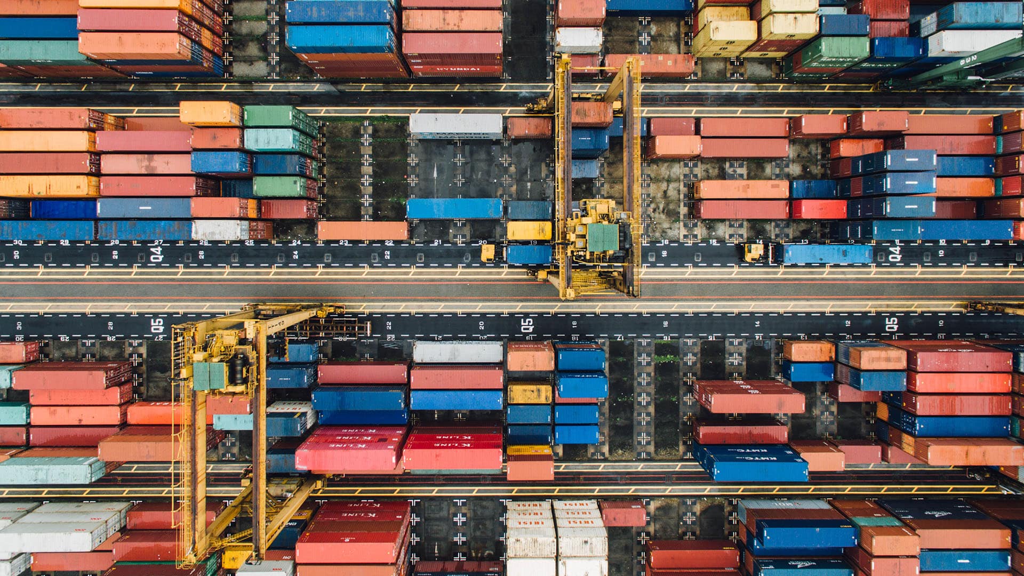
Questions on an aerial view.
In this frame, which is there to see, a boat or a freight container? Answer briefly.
freight container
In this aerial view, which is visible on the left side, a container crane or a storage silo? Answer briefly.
container crane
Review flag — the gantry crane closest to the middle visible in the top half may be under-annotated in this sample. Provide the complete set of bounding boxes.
[524,54,646,303]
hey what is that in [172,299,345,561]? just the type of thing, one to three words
container crane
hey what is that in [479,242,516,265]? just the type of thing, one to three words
work vehicle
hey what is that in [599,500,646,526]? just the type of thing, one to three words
shipping container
